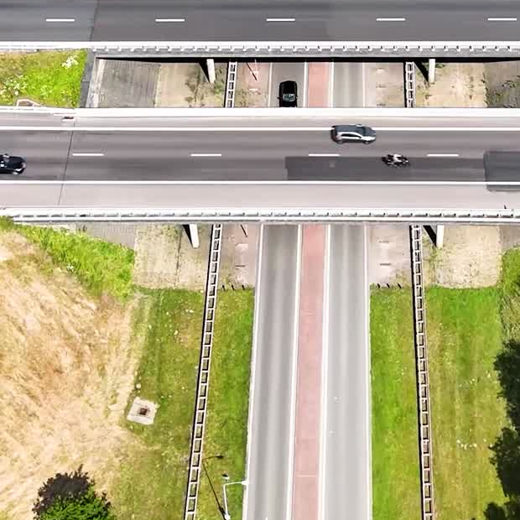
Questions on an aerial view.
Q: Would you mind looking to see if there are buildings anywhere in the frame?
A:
No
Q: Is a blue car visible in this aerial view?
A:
No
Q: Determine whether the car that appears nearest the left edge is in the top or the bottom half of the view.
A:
top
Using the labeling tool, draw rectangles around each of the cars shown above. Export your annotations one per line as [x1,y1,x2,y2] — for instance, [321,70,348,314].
[0,151,26,173]
[331,122,375,144]
[278,80,298,106]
